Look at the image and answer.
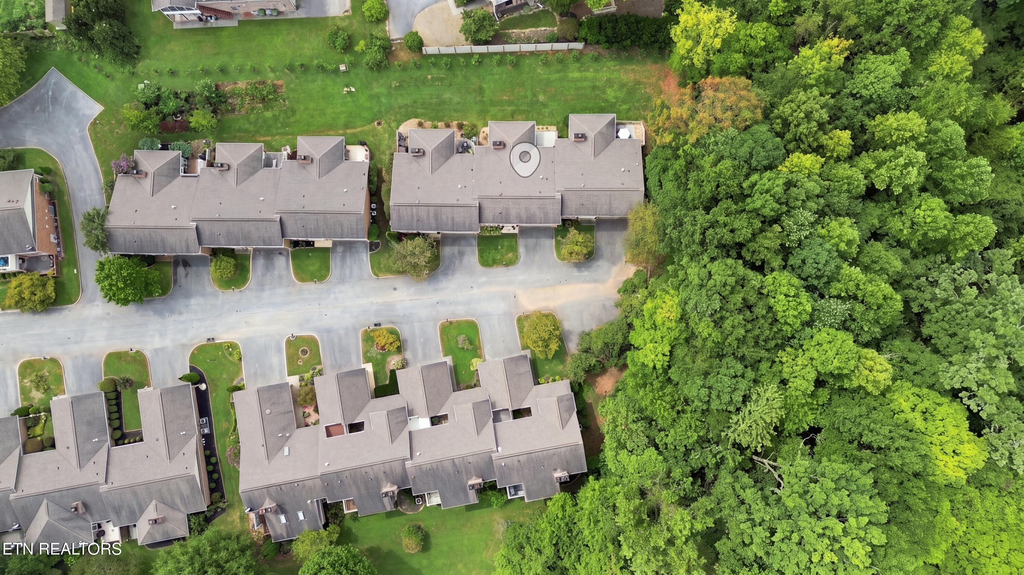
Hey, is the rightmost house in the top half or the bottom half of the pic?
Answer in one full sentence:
Seen from above, the rightmost house lies in the top half of the view.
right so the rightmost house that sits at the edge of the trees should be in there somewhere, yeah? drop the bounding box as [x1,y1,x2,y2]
[554,113,644,221]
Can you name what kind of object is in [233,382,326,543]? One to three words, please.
house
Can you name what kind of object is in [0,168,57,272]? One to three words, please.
house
